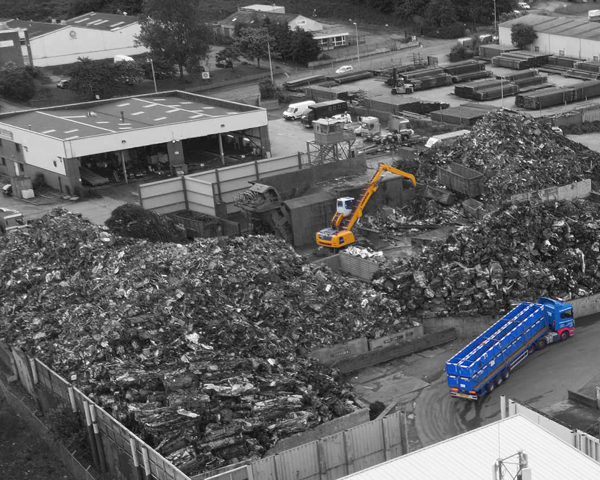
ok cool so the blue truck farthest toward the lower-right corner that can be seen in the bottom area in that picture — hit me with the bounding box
[447,303,575,403]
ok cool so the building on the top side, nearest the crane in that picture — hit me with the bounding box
[305,123,346,168]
